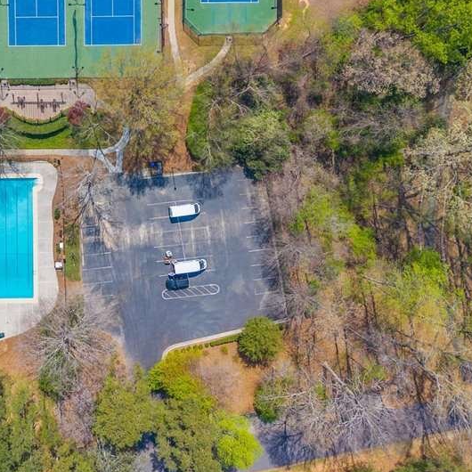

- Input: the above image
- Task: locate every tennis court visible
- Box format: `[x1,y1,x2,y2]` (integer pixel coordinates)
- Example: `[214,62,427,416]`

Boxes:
[75,0,163,79]
[0,0,75,79]
[184,0,278,34]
